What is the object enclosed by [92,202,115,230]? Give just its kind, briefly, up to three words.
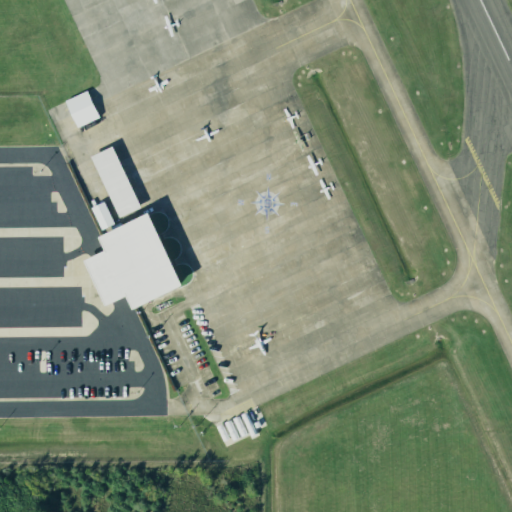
shed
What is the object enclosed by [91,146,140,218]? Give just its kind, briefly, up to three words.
shed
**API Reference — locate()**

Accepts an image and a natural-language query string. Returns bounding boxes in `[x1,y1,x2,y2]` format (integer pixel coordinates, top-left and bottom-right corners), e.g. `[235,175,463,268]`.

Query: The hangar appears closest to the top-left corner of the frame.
[66,90,101,128]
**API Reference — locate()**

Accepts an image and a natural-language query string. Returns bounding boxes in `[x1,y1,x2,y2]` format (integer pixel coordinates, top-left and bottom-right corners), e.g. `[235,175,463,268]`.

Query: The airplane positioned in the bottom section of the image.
[248,329,272,354]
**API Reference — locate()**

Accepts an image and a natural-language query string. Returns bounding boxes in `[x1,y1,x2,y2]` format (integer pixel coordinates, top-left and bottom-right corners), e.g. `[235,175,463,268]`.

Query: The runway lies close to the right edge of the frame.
[446,0,512,262]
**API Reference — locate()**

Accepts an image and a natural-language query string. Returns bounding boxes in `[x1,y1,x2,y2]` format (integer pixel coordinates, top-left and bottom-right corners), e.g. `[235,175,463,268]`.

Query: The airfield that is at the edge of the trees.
[49,0,512,424]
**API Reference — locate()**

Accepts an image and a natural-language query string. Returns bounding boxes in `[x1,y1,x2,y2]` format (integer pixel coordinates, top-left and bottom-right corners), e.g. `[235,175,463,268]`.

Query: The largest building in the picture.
[84,213,181,310]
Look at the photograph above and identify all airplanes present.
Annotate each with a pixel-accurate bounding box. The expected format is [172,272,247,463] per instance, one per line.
[149,74,170,92]
[320,179,335,200]
[307,156,323,176]
[248,329,272,354]
[196,125,219,142]
[284,108,300,128]
[294,132,310,152]
[164,16,180,37]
